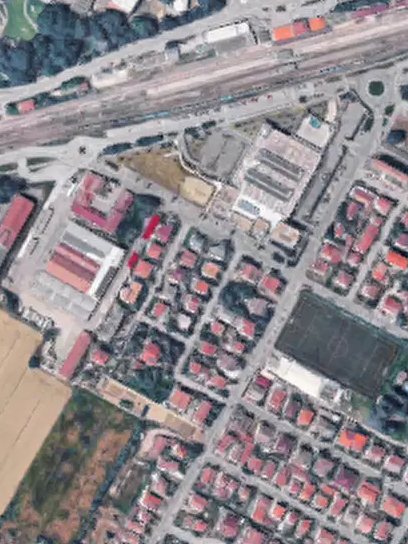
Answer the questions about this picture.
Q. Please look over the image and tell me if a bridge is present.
No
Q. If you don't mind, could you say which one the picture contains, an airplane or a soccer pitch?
soccer pitch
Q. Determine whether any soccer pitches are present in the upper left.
No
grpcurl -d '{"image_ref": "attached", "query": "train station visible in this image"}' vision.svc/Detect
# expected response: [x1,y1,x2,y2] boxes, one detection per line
[269,17,333,47]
